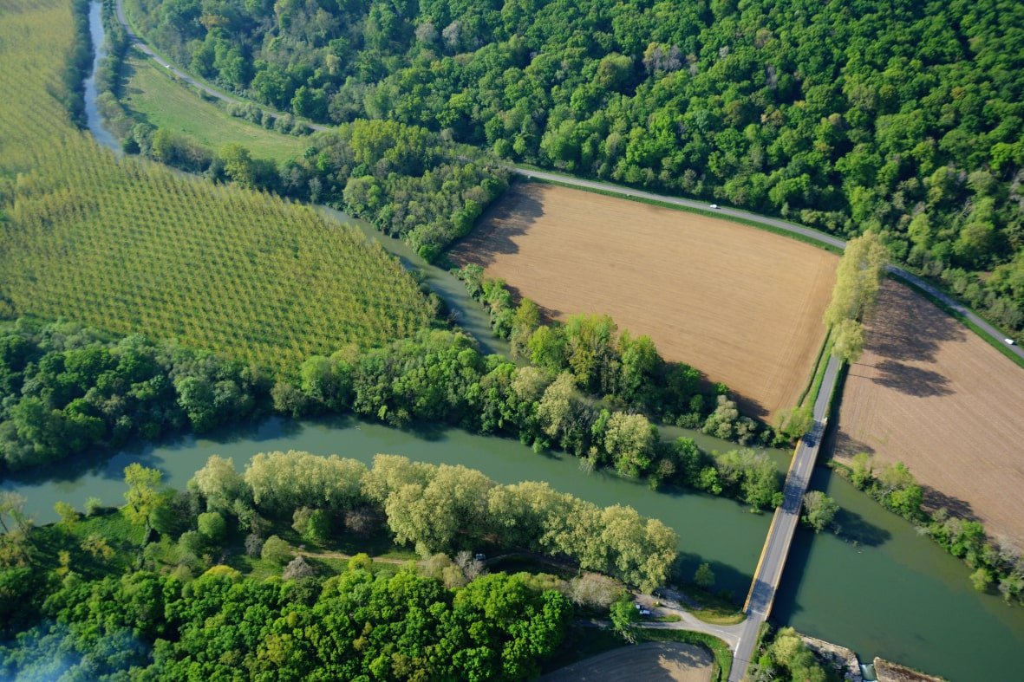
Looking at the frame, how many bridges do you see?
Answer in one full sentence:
The count comes to 1 bridge.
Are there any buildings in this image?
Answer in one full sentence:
No, no building can be seen from above.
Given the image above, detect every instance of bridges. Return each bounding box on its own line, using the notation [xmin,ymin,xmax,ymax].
[744,422,825,620]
